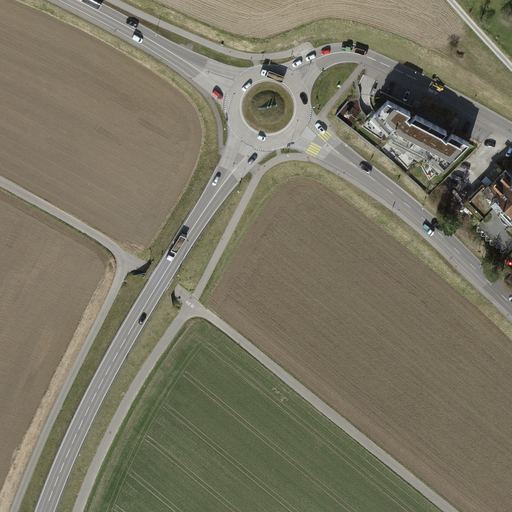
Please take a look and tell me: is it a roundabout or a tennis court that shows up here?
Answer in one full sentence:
This aerial view contains a roundabout.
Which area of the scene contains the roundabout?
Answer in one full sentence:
You can find the roundabout in the top area of the picture.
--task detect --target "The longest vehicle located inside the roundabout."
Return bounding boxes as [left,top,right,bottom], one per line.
[262,68,286,82]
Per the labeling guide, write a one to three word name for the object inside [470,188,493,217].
shed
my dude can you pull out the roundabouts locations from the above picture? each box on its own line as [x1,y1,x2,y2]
[224,64,312,151]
